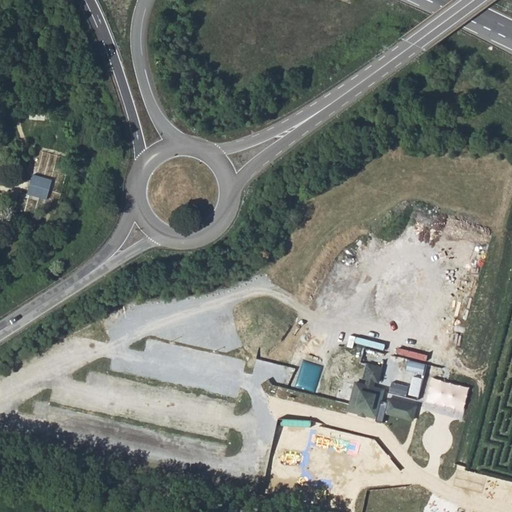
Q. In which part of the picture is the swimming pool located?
bottom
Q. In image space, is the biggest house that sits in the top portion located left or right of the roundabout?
to the left of it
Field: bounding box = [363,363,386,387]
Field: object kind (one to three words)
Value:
building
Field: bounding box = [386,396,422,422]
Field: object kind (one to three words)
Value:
house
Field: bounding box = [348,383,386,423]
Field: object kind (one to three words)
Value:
building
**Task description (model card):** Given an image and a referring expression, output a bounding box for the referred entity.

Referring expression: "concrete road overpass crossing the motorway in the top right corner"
[404,0,496,56]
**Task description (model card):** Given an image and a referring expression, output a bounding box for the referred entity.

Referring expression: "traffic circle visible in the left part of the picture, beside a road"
[125,128,242,250]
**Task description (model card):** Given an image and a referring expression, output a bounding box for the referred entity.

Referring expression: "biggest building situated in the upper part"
[26,172,52,199]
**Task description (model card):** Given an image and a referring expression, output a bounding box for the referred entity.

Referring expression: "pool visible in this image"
[294,358,325,394]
